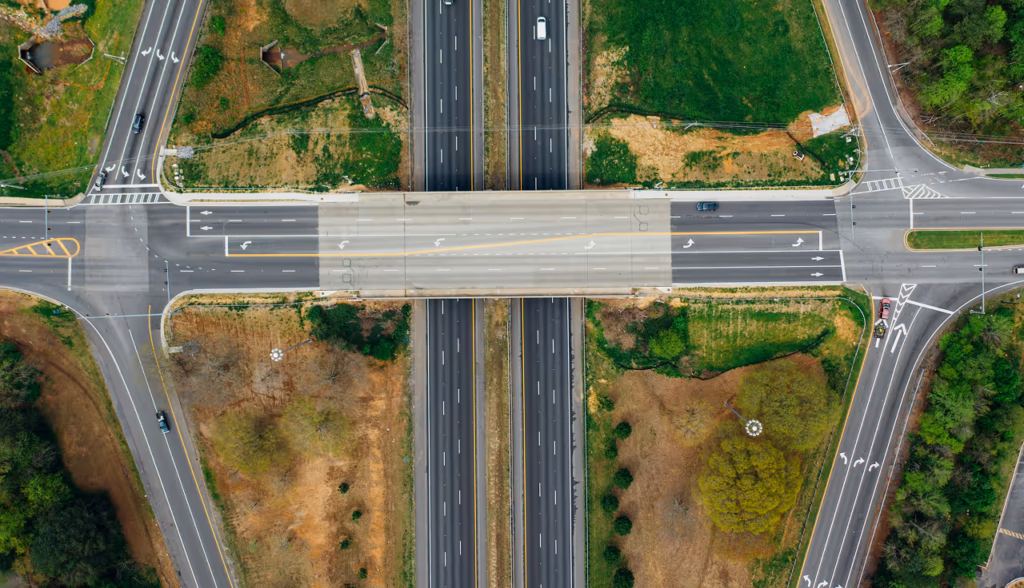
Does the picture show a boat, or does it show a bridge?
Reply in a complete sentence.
Visible in the photo is a bridge.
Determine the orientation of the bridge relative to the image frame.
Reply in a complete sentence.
The bridge is oriented from left to right.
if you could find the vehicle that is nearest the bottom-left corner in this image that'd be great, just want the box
[155,410,171,434]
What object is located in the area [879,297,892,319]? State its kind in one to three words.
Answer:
vehicle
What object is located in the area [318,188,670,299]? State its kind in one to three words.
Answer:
bridge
